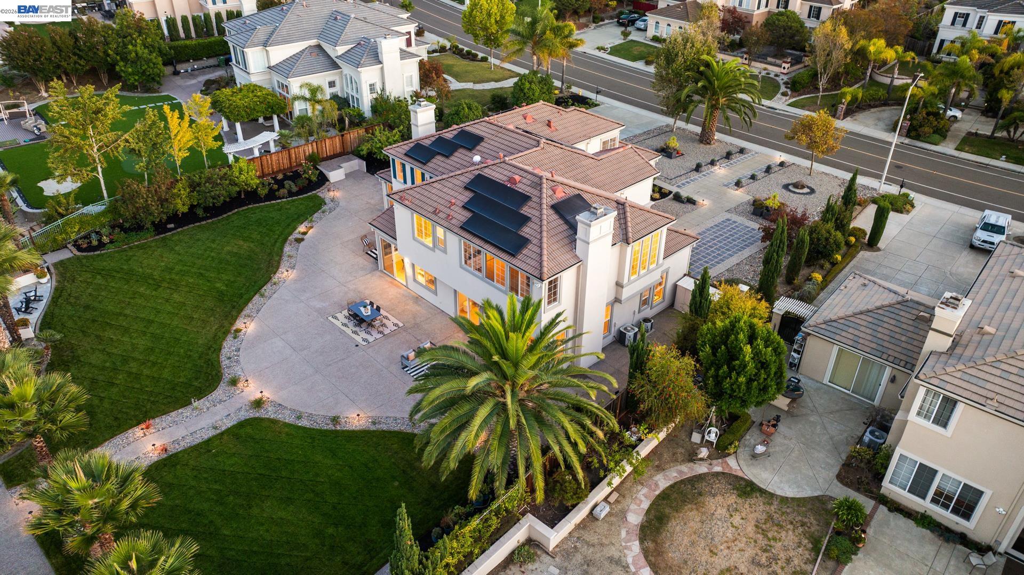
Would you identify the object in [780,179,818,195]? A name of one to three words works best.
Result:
fountain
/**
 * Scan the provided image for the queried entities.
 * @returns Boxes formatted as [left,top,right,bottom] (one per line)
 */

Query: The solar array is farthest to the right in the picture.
[552,193,592,225]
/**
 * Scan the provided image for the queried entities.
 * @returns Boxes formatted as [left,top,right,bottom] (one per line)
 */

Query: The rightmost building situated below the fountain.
[800,236,1024,567]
